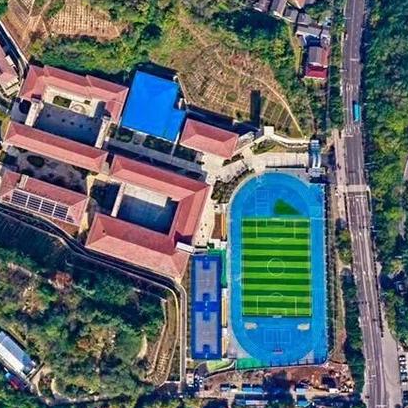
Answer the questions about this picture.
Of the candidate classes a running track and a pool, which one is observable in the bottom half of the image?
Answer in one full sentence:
It is a running track that can be seen in the bottom half of the image.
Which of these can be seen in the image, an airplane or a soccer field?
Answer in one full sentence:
I can see a soccer field in this picture.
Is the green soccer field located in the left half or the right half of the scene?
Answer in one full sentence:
You can find the green soccer field on the right side of the picture.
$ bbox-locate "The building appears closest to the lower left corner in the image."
[0,330,36,374]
